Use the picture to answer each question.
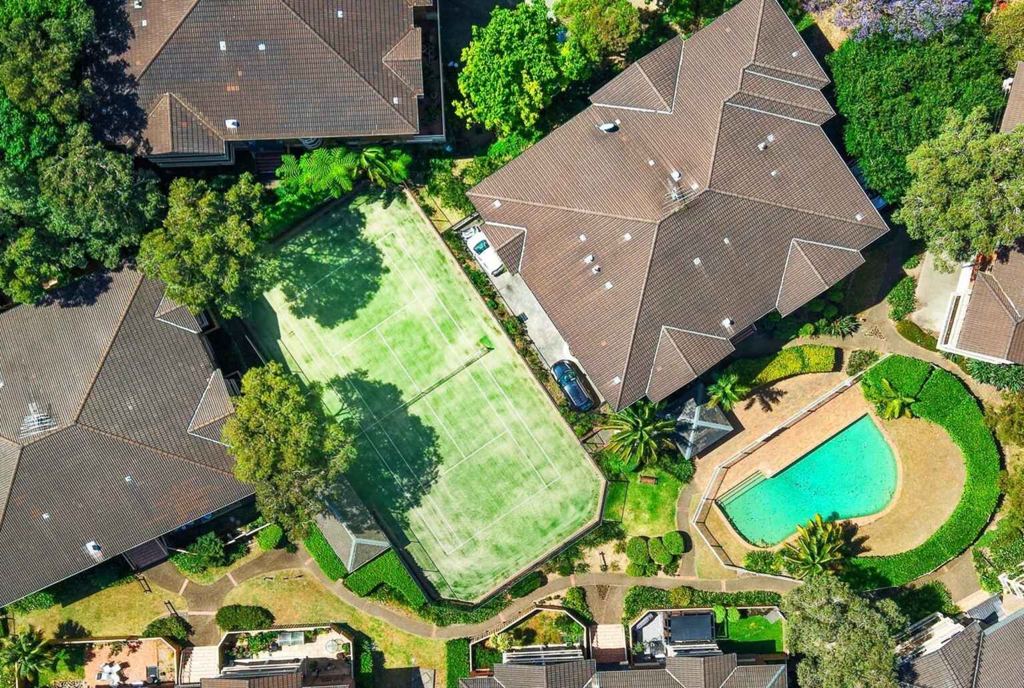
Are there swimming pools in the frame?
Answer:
Yes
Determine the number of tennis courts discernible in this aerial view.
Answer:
one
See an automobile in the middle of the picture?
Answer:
Yes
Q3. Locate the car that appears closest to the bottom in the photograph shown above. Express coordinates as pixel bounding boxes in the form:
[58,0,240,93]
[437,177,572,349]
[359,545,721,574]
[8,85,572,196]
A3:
[552,357,595,416]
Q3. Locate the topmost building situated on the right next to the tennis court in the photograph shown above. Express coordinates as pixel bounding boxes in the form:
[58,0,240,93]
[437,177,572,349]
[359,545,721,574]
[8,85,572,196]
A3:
[467,0,891,413]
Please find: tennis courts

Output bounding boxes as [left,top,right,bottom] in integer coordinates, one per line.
[242,183,605,604]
